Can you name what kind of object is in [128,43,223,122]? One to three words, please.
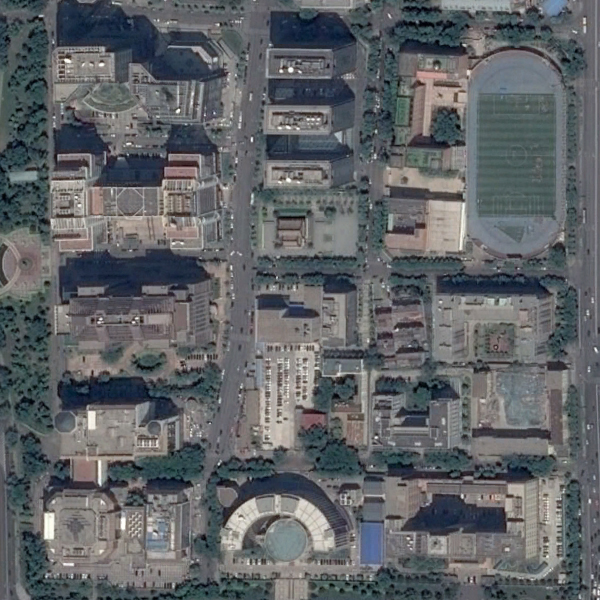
building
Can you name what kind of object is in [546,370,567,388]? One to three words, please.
shed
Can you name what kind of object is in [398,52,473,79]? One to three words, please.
building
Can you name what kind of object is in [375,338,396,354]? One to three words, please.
house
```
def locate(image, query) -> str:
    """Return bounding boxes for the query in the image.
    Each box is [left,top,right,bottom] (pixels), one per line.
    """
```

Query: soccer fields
[477,94,554,216]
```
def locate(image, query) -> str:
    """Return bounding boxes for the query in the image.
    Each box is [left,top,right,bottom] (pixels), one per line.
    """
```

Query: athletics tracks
[468,48,565,257]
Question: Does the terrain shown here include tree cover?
Yes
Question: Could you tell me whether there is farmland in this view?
No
